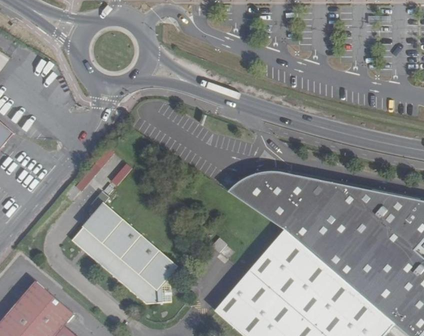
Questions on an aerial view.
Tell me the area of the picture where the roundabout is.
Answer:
top left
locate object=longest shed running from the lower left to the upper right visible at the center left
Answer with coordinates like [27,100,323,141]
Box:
[76,150,115,191]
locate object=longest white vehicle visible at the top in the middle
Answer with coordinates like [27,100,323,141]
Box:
[201,80,243,100]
